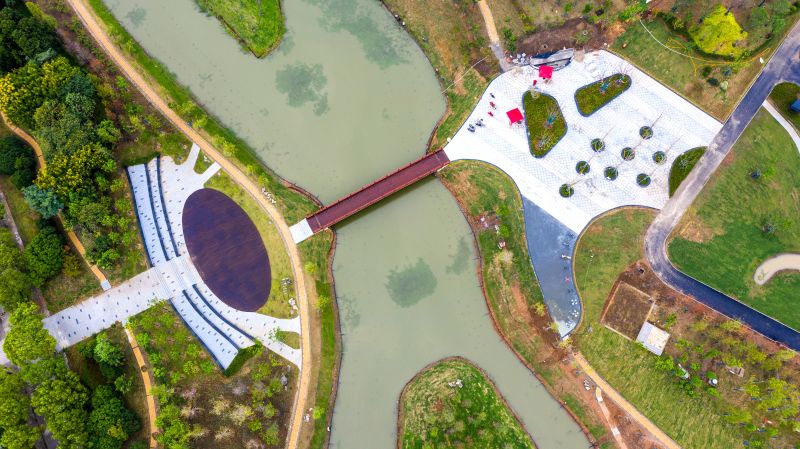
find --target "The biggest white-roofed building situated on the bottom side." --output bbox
[638,324,670,355]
